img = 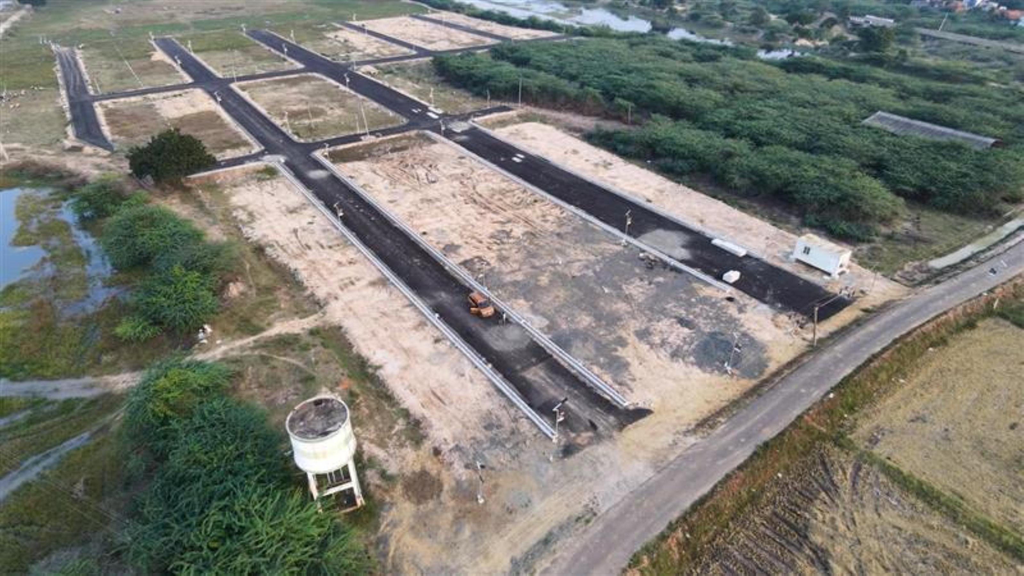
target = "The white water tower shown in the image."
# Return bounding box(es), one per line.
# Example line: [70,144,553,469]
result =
[289,397,360,512]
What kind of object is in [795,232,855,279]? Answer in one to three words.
building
